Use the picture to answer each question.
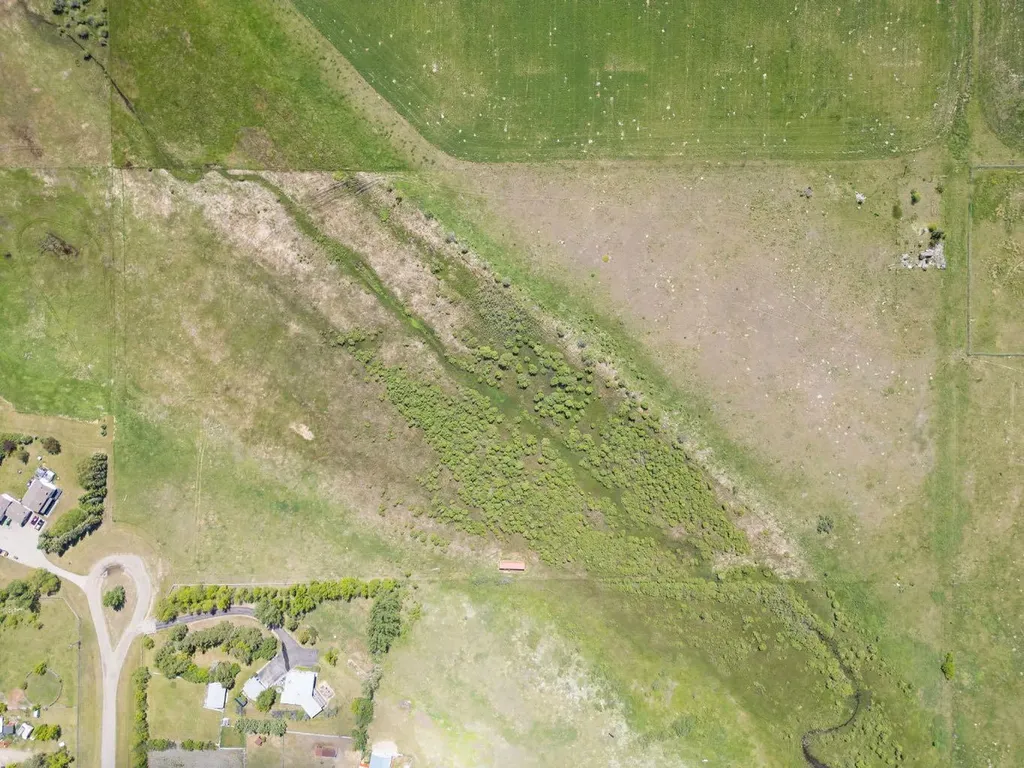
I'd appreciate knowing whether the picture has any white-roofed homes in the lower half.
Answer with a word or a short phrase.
Yes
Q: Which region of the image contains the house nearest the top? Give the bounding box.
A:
[0,477,69,525]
